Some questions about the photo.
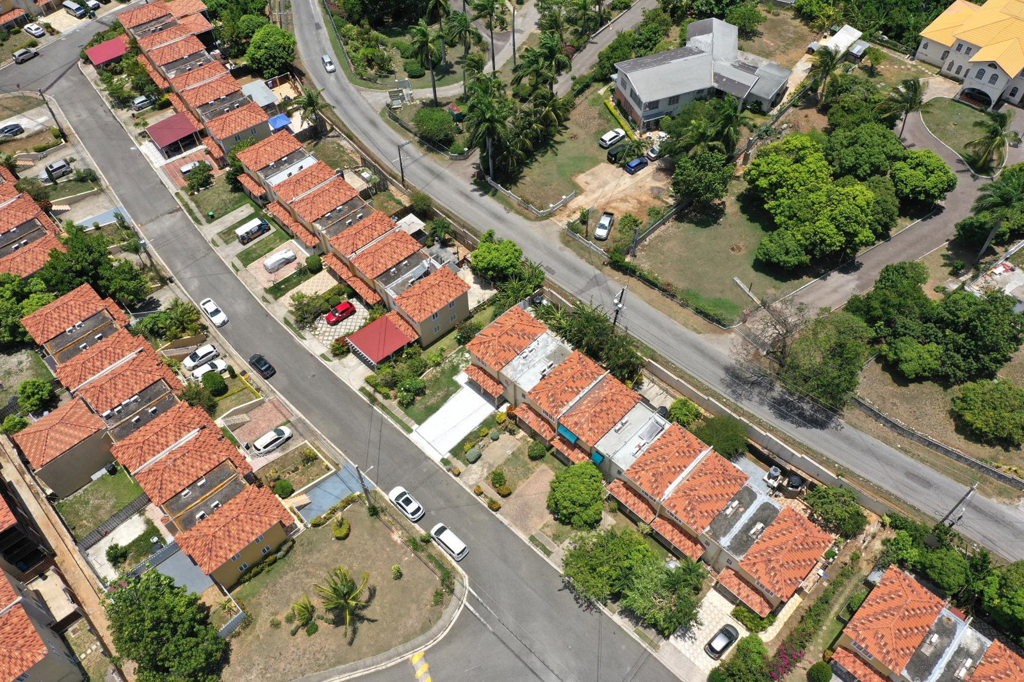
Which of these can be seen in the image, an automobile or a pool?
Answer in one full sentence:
Visible in the photo is an automobile.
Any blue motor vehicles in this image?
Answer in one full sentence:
Yes, there's a blue motor vehicle here.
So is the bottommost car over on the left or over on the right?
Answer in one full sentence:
It is on the right.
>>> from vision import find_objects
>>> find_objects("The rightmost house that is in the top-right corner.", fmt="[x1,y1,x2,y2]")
[916,2,1024,112]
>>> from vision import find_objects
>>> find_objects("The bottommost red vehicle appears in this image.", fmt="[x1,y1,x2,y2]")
[325,300,358,324]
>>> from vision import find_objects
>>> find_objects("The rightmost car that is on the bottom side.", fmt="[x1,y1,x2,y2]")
[702,624,740,664]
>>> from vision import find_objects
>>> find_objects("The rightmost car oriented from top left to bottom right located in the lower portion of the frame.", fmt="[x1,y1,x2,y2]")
[431,524,471,563]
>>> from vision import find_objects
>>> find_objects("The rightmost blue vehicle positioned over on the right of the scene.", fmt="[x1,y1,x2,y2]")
[623,158,649,175]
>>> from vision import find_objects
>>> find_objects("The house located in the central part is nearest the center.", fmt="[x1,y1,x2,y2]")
[463,306,559,407]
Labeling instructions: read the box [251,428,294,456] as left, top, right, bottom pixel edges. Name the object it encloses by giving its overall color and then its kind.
white car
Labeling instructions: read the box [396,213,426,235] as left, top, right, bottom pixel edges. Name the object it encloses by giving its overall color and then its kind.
white gazebo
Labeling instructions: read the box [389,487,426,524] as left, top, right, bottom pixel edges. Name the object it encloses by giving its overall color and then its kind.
white car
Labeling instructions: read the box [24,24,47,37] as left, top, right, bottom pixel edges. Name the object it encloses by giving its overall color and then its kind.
white vehicle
